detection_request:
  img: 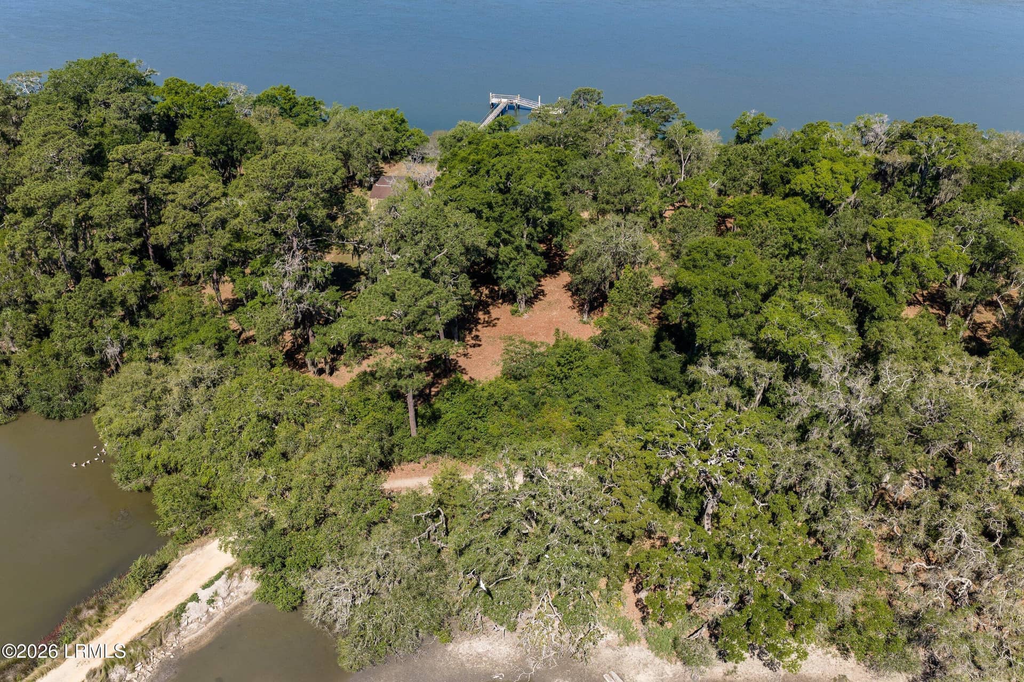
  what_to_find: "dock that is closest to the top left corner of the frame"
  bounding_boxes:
[473,91,520,130]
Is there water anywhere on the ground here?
Yes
